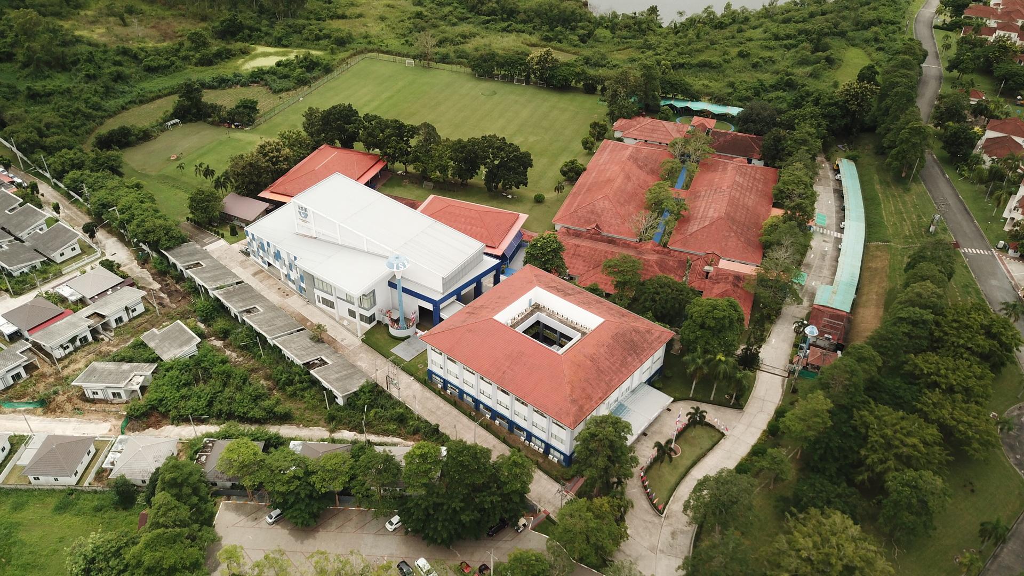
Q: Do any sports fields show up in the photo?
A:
Yes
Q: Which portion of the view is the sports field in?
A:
top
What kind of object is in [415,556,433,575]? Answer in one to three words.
car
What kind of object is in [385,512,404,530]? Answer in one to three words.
car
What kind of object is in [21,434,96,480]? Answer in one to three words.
house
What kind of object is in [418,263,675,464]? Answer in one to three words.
building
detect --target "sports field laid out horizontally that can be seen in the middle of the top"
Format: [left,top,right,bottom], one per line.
[259,57,608,213]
